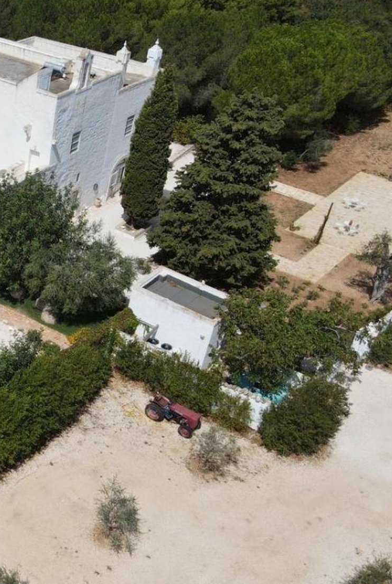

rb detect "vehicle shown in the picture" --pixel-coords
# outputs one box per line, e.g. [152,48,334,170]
[139,387,206,440]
